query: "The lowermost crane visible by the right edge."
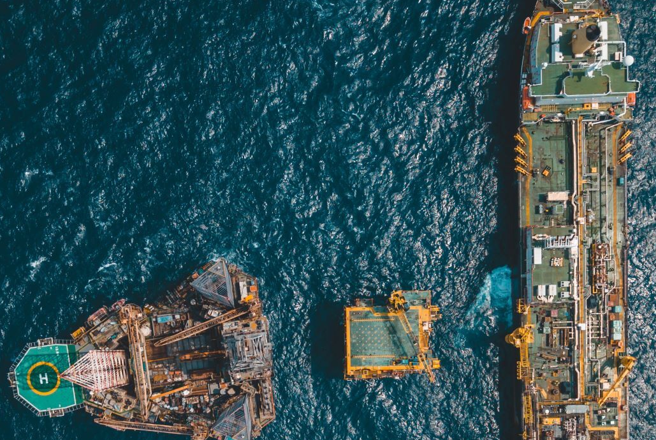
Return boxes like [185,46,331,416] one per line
[597,354,646,406]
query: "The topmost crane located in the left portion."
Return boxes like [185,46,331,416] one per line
[154,294,268,347]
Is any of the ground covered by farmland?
No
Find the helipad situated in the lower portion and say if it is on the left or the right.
left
